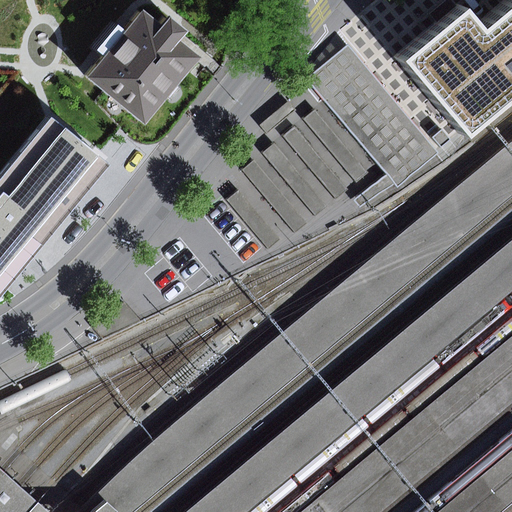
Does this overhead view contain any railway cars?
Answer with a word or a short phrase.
Yes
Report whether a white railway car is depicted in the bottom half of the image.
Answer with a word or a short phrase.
Yes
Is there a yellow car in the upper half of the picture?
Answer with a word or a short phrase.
Yes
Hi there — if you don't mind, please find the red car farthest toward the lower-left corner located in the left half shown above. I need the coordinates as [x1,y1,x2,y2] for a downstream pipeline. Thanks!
[155,269,176,289]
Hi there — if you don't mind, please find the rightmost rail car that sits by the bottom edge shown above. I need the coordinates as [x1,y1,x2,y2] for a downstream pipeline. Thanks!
[438,426,512,502]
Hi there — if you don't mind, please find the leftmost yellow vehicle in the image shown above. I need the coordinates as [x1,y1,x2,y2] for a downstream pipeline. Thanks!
[125,149,144,172]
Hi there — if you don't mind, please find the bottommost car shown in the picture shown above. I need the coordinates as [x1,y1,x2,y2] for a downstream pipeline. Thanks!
[84,329,100,342]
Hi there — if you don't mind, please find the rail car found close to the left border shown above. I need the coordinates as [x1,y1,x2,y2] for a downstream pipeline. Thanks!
[0,371,72,412]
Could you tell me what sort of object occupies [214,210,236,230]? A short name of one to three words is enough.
car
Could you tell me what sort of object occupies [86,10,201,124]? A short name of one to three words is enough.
house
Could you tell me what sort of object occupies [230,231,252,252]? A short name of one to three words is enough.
car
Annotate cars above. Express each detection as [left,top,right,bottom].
[172,248,194,268]
[155,269,176,289]
[208,200,229,221]
[164,238,187,259]
[84,329,100,342]
[214,210,236,230]
[164,280,186,302]
[180,258,202,279]
[62,222,82,242]
[230,231,252,252]
[222,222,244,242]
[125,149,144,172]
[238,240,260,262]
